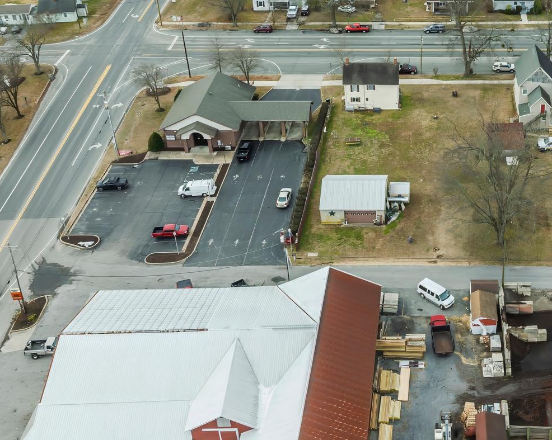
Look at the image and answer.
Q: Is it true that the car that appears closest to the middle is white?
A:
Yes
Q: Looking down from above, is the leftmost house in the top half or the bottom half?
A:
top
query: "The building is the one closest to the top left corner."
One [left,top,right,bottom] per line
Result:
[0,0,113,27]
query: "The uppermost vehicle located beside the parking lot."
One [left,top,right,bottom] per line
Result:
[231,138,255,159]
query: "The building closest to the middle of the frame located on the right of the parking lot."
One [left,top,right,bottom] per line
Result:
[319,171,393,223]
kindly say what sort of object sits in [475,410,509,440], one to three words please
shed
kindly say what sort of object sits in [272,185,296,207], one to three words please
car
